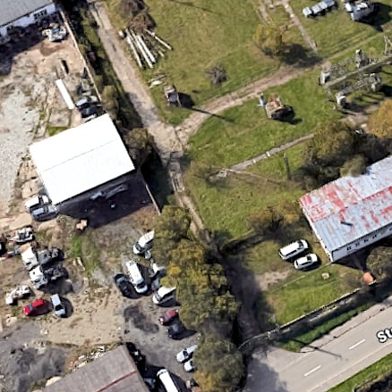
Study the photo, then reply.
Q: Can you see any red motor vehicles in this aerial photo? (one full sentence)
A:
Yes, the picture does show a red motor vehicle.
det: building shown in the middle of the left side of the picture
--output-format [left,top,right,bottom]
[29,115,136,219]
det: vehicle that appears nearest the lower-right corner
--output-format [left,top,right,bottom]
[295,256,319,271]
